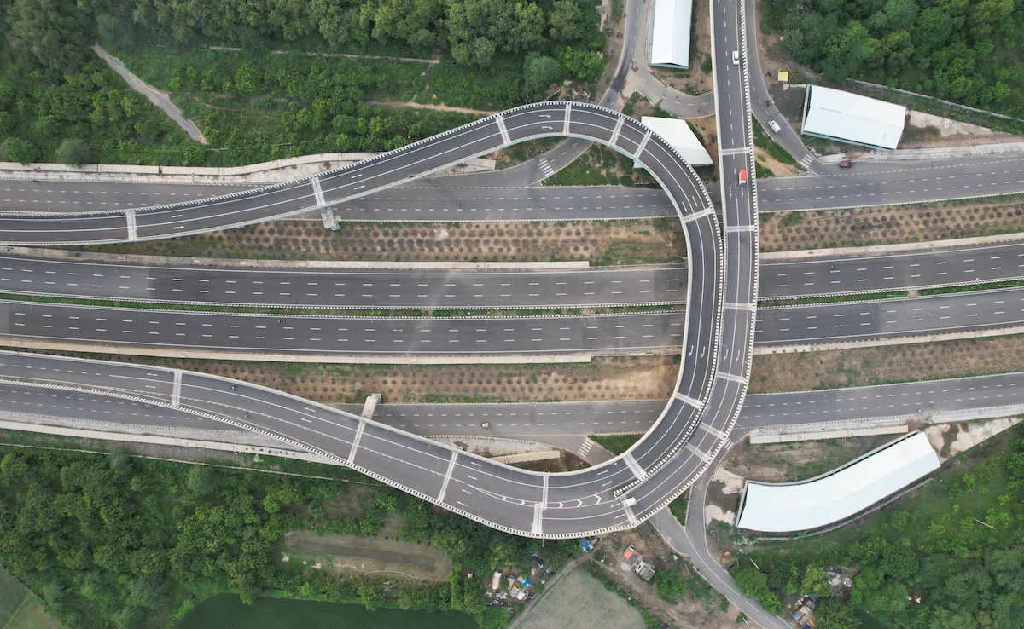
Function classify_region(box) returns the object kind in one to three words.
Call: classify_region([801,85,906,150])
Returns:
shed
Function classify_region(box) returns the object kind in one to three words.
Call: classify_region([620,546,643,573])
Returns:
shed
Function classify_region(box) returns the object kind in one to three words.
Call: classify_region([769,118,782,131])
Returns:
vehicle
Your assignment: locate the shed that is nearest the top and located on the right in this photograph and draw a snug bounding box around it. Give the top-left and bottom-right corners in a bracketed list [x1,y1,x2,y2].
[645,0,693,72]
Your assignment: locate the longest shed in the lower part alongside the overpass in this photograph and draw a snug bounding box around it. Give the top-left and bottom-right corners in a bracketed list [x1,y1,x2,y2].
[735,431,940,532]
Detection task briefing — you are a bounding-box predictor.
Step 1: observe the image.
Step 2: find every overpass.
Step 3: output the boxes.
[0,0,760,540]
